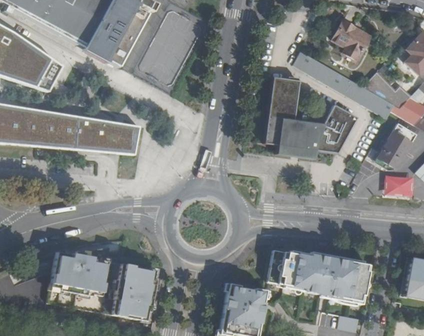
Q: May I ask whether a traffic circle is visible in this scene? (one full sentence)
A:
Yes, a traffic circle is visible in the scene.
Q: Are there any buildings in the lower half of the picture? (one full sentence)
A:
Yes, the scene does show a building in the lower half of the picture.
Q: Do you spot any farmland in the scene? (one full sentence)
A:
No, farmland can't be seen anywhere here.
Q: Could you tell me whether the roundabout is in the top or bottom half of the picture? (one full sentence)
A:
It is in the bottom half that the roundabout appears.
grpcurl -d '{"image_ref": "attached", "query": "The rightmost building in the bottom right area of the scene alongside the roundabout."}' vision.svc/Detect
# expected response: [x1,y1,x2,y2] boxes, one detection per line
[266,248,368,309]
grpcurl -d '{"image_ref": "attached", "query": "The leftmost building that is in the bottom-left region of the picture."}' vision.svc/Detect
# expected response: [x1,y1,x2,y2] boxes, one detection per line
[46,250,111,310]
